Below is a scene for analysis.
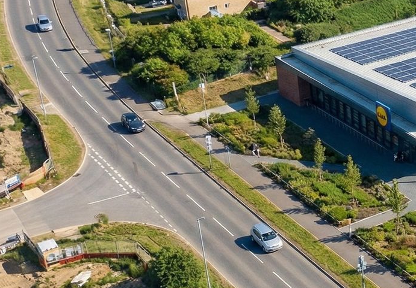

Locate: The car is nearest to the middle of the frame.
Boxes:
[120,110,144,132]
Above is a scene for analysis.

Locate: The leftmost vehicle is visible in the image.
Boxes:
[36,15,51,28]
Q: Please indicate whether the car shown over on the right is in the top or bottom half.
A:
bottom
